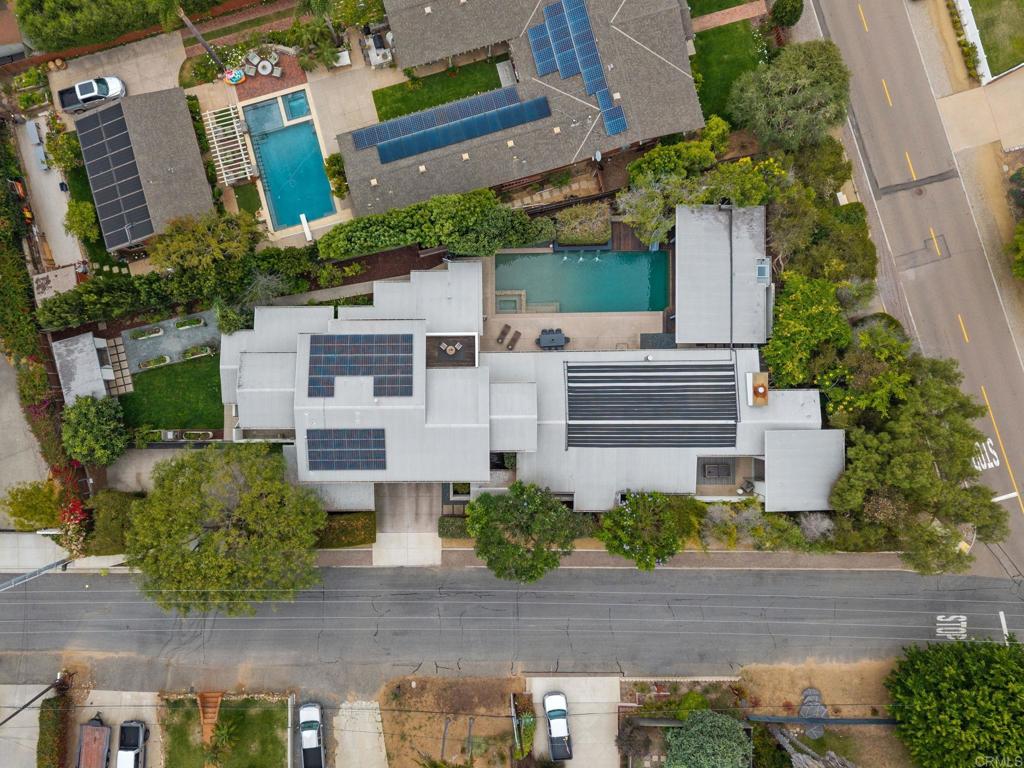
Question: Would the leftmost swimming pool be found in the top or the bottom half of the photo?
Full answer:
Seen from above, the leftmost swimming pool lies in the top half of the view.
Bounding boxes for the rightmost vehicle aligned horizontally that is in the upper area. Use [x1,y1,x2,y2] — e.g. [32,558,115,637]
[49,68,126,110]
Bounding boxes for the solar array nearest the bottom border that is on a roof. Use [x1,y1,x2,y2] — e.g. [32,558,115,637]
[307,429,386,470]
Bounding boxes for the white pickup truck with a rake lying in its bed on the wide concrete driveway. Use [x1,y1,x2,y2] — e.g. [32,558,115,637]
[541,690,572,763]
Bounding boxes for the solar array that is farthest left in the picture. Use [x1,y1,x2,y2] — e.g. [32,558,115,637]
[77,105,151,247]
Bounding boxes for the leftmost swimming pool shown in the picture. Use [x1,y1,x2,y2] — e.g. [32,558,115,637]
[243,88,335,228]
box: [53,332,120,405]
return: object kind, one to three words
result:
shed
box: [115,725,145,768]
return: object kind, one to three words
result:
truck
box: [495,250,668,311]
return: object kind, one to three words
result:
swimming pool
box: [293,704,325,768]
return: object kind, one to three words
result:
truck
